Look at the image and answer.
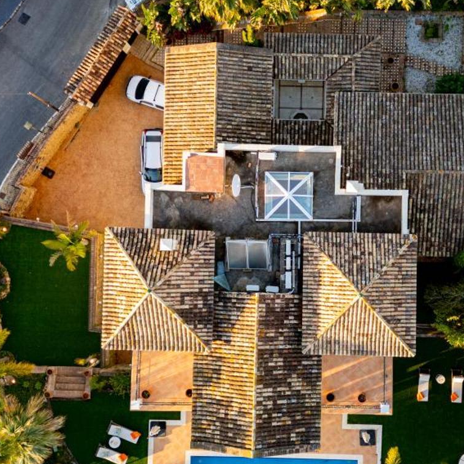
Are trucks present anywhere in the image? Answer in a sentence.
No, no truck can be seen from above.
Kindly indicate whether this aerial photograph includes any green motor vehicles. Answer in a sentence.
No, there is no green motor vehicle in the image.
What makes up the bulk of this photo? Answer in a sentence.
The scene is dominated by buildings.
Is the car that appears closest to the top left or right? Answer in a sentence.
The car that appears closest to the top sits on the left side.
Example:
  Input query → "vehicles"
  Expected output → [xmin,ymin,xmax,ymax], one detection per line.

[122,72,165,111]
[134,126,164,196]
